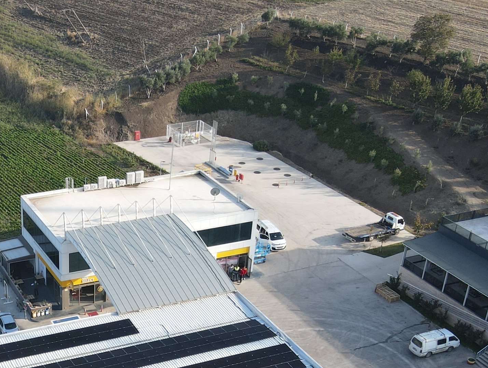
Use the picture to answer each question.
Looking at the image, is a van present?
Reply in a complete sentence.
Yes, a van can be made out from above.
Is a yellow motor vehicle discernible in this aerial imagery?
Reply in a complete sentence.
No, there's no yellow motor vehicle here.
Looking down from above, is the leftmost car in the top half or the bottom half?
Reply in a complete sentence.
You can find the leftmost car in the bottom half.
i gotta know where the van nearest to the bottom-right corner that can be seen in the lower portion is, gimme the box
[408,328,461,357]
